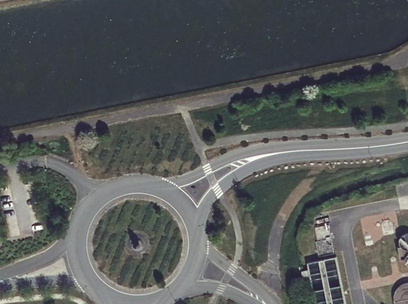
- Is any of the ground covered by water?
Yes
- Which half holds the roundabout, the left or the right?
left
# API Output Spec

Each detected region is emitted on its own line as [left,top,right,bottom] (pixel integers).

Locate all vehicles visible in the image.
[31,225,42,232]
[0,196,12,203]
[3,210,15,216]
[2,202,14,209]
[24,199,36,206]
